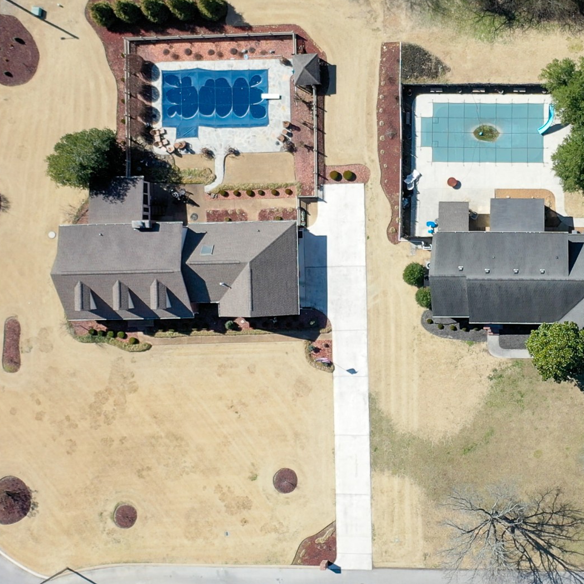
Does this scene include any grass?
Yes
